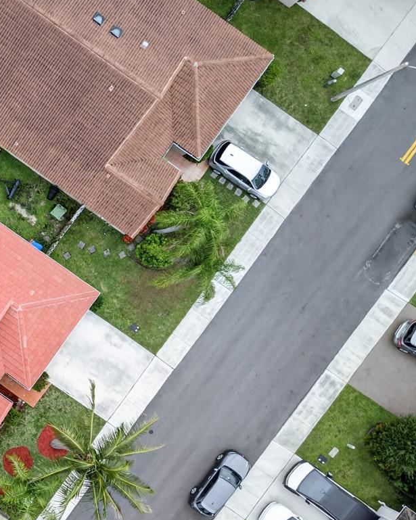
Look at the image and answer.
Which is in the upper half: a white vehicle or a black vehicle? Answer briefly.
white vehicle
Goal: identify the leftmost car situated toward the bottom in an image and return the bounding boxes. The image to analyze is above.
[189,449,254,520]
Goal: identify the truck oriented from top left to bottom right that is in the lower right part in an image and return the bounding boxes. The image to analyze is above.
[279,458,380,520]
